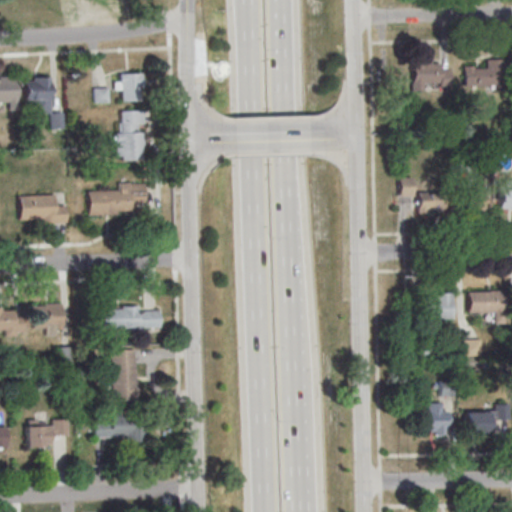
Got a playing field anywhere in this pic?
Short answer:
No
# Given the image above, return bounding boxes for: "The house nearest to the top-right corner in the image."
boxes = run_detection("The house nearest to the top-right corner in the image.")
[466,59,504,92]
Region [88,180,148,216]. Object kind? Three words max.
house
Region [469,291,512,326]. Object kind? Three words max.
house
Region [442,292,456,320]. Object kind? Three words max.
building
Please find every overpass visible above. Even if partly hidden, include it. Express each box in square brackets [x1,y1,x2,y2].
[196,74,351,212]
